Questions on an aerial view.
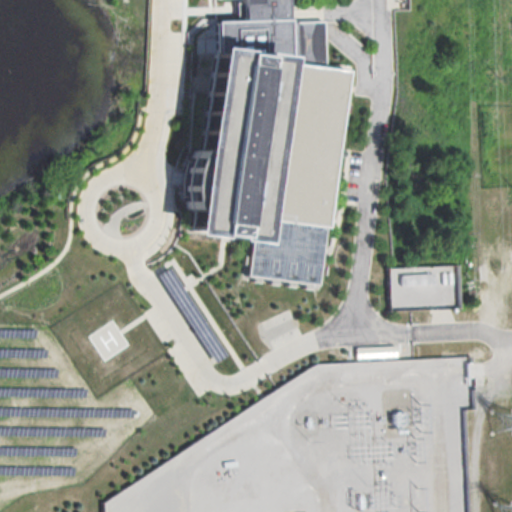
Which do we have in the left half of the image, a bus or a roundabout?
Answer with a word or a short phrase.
roundabout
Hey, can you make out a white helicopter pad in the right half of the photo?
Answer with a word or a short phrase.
No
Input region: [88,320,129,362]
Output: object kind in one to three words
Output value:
helipad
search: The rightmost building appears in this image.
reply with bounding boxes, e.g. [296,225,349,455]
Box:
[390,266,462,310]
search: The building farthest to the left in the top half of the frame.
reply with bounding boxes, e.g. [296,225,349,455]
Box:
[184,0,352,290]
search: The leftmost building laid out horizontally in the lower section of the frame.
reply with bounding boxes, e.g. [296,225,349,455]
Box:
[356,346,398,360]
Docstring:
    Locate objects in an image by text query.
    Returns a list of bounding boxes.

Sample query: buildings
[356,346,398,360]
[184,0,352,290]
[390,266,462,310]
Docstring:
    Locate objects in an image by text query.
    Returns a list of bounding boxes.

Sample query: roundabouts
[83,174,159,250]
